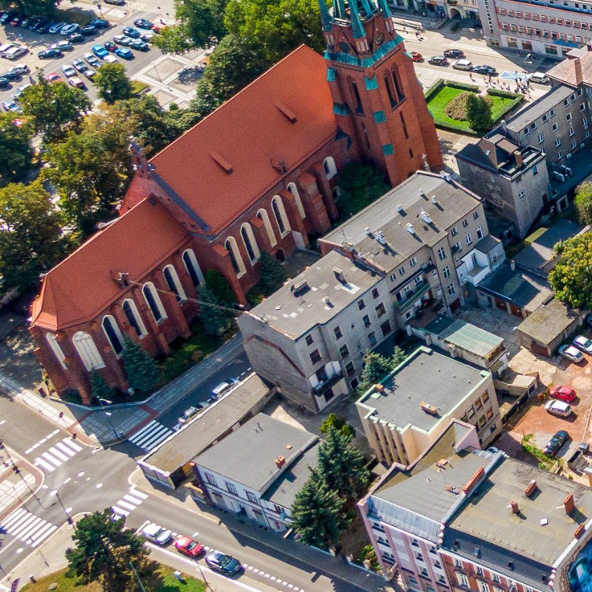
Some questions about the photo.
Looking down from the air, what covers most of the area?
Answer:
buildings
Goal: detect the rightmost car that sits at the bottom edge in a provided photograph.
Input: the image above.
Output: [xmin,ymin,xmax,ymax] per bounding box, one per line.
[207,550,238,574]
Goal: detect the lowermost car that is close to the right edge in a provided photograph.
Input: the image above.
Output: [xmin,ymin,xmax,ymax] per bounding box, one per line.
[551,430,569,443]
